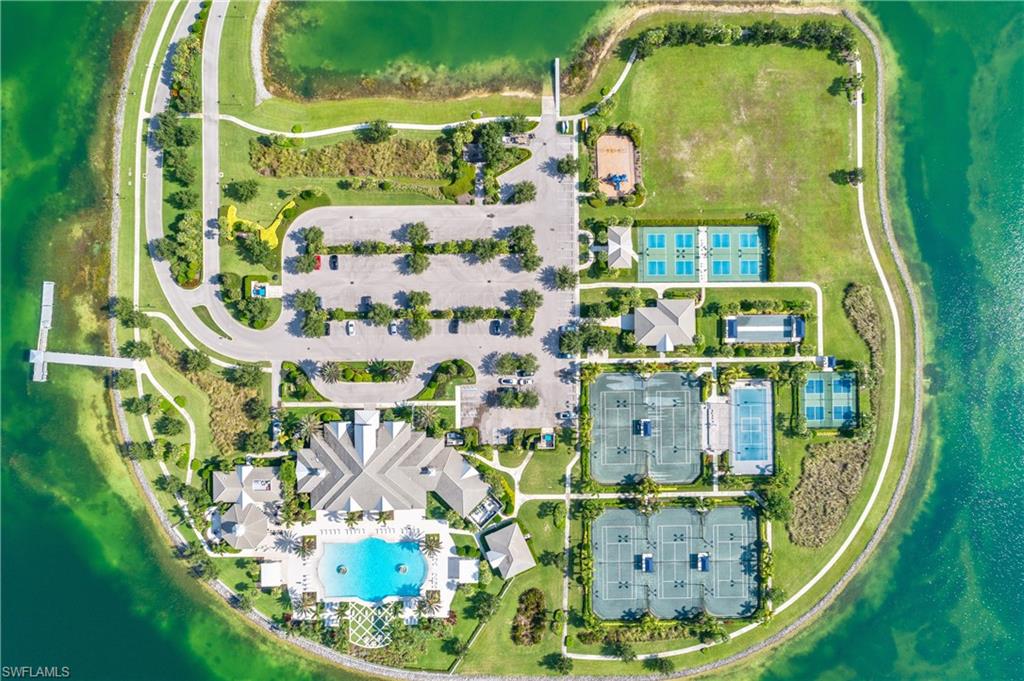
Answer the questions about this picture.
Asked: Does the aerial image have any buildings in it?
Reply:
Yes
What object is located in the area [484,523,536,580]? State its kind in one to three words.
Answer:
house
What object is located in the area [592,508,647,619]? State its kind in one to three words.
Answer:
tennis court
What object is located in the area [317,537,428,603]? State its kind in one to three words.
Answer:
swimming pool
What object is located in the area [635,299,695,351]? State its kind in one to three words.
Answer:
building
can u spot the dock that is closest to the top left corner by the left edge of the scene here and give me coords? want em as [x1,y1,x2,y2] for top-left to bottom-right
[30,282,134,382]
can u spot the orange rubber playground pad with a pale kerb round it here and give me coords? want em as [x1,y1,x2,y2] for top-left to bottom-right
[597,135,636,196]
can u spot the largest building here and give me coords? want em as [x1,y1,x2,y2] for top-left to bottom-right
[296,409,490,518]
